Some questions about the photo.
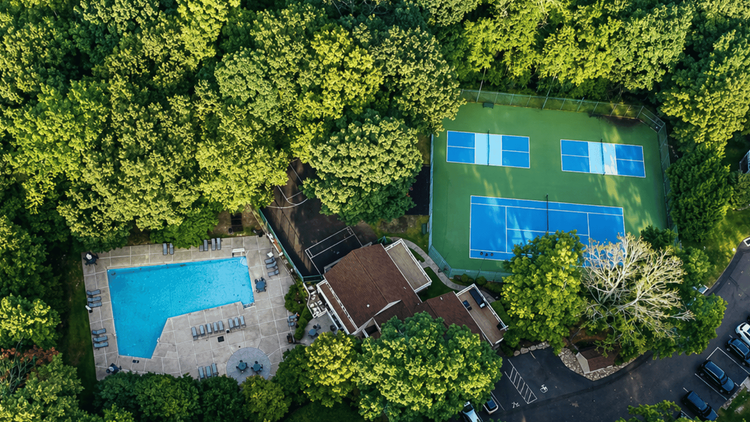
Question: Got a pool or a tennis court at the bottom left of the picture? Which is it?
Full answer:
It is a pool that can be seen at the bottom left of the picture.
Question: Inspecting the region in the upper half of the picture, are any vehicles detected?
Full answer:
No, no vehicle appears in the upper half of the picture.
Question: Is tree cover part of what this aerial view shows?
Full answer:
Yes, there's tree cover in this view.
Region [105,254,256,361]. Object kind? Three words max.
swimming pool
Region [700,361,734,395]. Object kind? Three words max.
car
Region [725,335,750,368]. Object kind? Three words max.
car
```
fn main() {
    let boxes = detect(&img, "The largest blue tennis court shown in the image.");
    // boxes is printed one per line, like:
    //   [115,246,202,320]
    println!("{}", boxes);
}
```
[469,196,628,271]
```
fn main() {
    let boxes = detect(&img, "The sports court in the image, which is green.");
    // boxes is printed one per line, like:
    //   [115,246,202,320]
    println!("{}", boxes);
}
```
[430,101,672,295]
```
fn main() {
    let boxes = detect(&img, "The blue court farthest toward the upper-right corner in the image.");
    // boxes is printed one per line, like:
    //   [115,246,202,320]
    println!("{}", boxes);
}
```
[560,139,646,177]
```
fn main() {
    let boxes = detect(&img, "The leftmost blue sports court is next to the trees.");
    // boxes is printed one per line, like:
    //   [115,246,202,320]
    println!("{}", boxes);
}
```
[446,130,530,169]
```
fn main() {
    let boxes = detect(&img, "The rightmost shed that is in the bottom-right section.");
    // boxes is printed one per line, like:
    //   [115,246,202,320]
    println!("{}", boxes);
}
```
[582,344,615,372]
